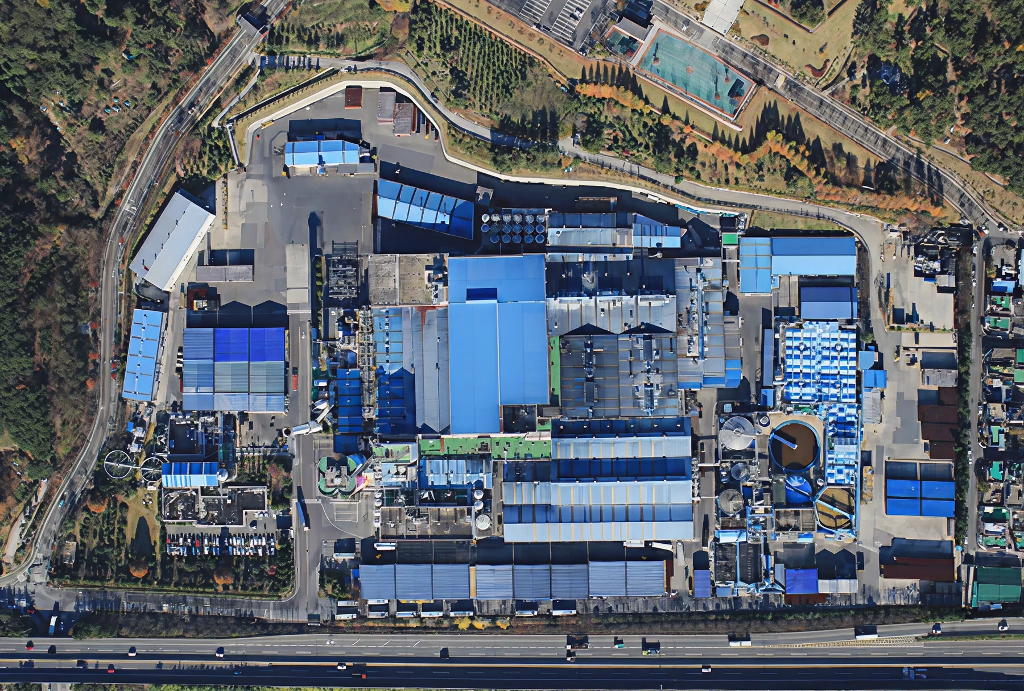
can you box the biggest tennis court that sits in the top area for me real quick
[637,29,756,118]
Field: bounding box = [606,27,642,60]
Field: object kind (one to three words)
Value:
tennis court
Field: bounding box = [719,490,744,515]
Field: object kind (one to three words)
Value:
water tank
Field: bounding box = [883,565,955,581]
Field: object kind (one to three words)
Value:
building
